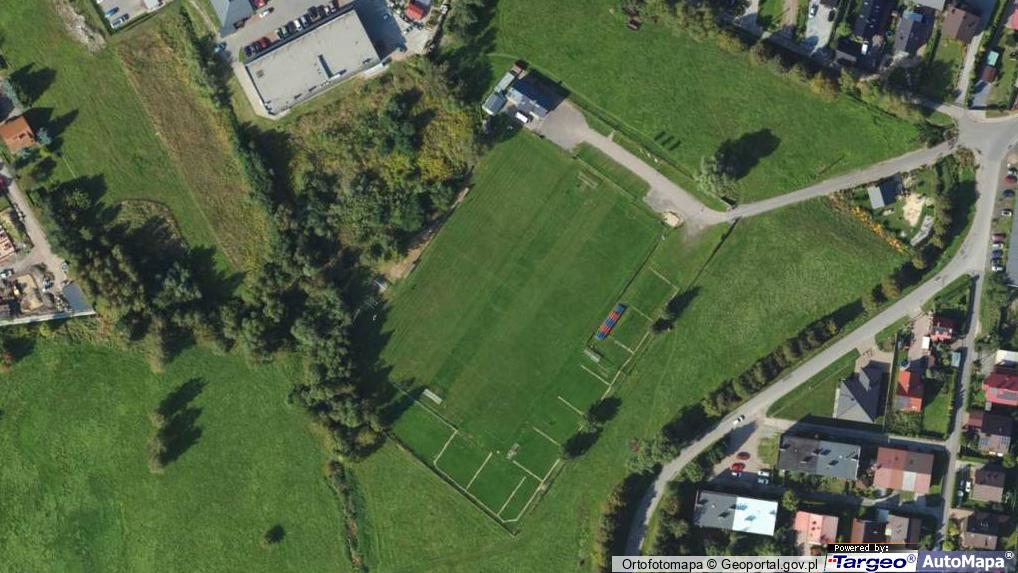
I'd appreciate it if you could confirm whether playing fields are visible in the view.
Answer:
Yes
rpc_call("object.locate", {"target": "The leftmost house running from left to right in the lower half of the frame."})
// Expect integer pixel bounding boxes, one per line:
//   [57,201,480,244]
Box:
[695,489,777,535]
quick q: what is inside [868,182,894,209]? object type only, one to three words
shed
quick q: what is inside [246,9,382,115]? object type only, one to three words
building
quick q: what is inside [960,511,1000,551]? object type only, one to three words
house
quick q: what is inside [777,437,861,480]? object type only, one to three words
house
